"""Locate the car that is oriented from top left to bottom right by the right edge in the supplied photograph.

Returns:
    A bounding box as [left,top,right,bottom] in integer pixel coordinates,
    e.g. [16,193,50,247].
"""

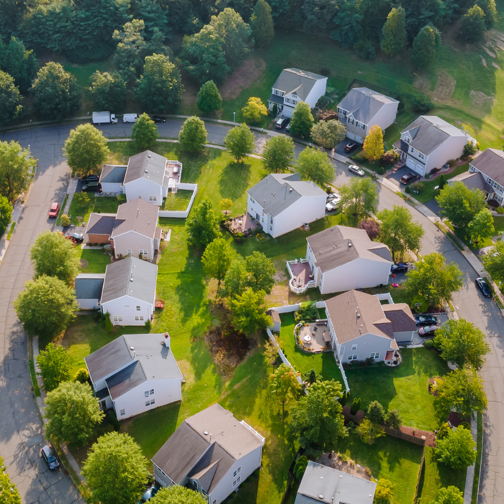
[473,278,493,297]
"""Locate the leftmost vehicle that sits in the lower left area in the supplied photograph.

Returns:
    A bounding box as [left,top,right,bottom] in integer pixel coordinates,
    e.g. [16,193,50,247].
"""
[41,445,60,470]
